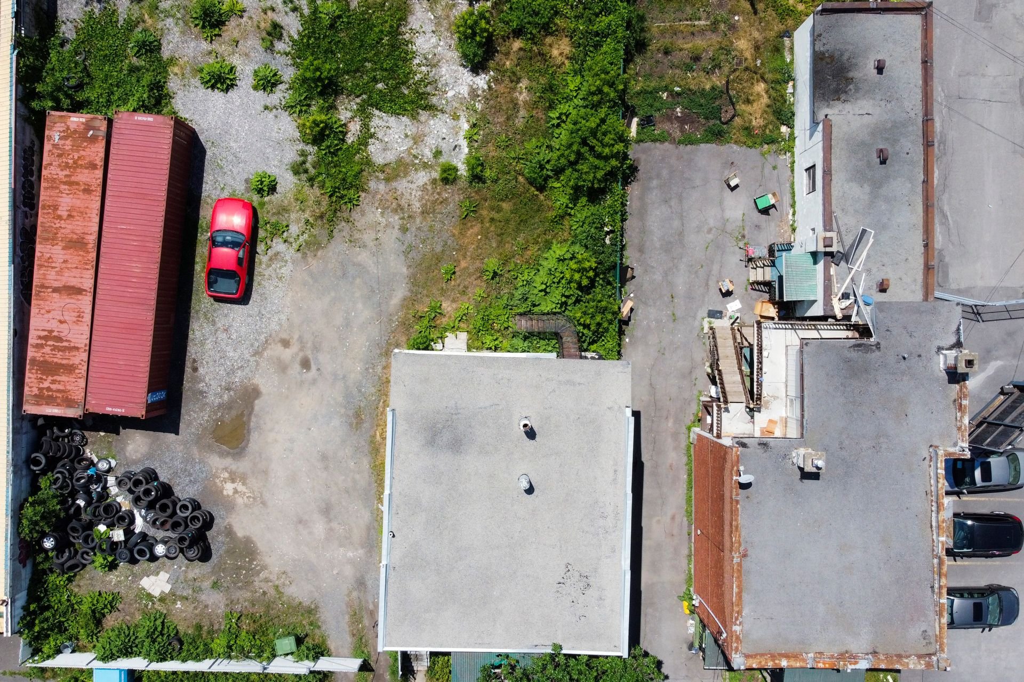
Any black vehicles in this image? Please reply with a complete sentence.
Yes, the photo shows a black vehicle.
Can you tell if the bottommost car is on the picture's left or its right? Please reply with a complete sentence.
The bottommost car is on the right side of the image.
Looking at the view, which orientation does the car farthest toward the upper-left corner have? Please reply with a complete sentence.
The car farthest toward the upper-left corner has been laid out vertically relative to the frame.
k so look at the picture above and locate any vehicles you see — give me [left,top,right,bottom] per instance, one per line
[945,510,1024,561]
[204,199,257,302]
[946,583,1019,635]
[942,450,1021,497]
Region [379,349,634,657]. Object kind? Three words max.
house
